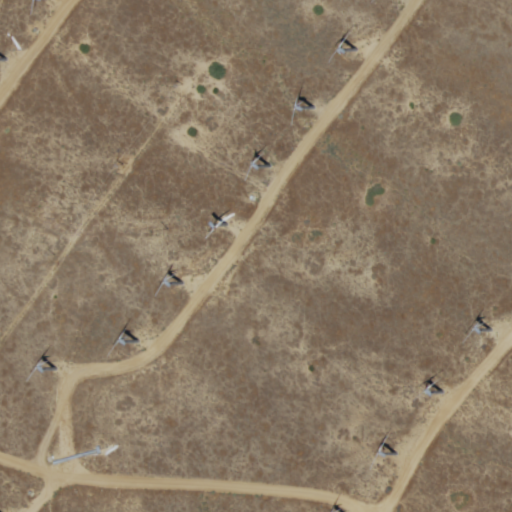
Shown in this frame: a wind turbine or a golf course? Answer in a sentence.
It is a wind turbine that can be seen here.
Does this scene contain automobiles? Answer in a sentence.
No, I can't see a single automobile in this photo.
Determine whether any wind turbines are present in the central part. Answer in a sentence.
Yes, a wind turbine is visible in the central part.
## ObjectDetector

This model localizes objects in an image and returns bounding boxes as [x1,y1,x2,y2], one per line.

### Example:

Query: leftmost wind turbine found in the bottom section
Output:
[26,358,58,382]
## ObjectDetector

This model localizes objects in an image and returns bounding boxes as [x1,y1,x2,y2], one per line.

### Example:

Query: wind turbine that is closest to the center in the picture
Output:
[208,216,228,240]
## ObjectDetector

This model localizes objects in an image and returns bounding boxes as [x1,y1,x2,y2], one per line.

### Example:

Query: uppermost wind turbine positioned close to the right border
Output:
[462,318,493,342]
